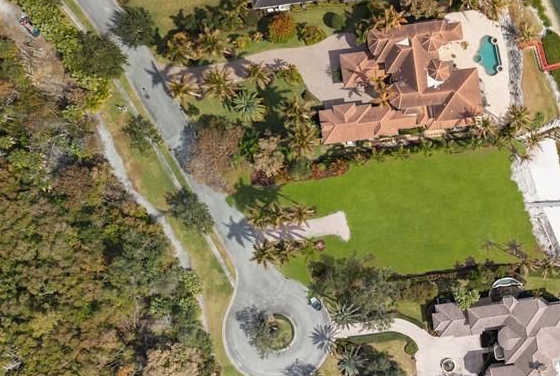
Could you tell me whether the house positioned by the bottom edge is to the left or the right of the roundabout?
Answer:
right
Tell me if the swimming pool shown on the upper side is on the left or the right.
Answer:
right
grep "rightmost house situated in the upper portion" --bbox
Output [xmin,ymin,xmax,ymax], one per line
[319,20,484,144]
